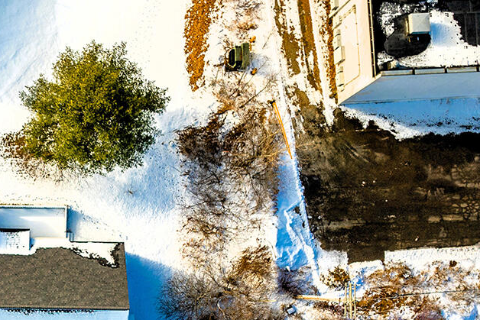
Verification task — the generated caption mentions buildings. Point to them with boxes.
[320,0,480,101]
[0,228,134,320]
